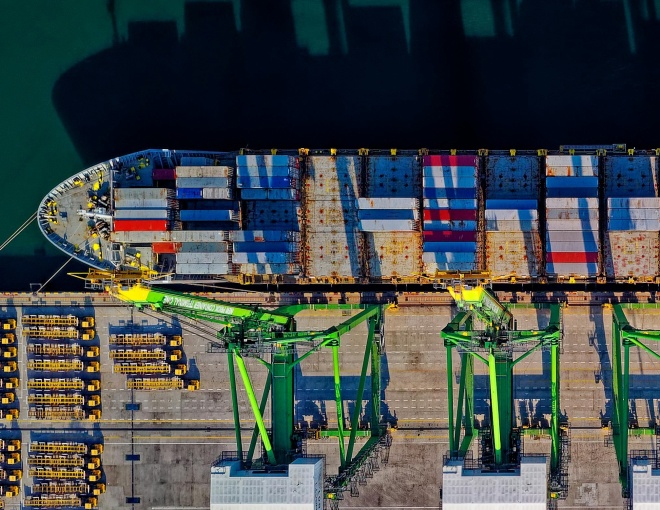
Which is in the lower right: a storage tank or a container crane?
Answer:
container crane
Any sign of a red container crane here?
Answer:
No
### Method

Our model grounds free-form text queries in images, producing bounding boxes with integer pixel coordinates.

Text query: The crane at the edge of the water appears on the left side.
[72,268,400,510]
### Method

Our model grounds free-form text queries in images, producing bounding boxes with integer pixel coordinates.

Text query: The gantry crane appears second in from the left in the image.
[421,268,574,510]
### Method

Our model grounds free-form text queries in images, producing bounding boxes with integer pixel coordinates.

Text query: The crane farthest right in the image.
[594,300,660,510]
